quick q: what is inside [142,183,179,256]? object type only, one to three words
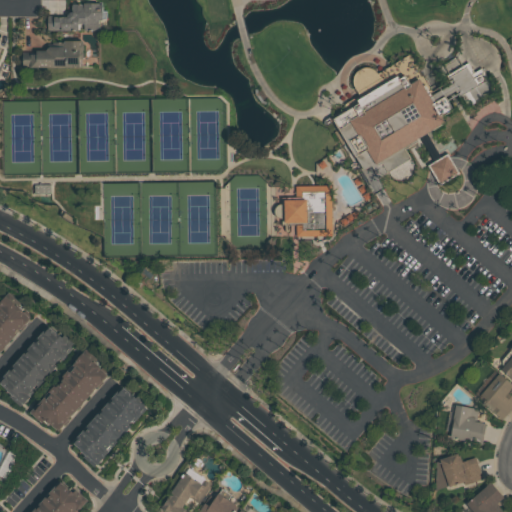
tennis court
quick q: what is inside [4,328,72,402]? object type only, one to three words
building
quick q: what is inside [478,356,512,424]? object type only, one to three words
house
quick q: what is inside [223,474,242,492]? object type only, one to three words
swimming pool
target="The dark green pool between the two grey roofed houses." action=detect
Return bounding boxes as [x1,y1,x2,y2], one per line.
[82,34,98,50]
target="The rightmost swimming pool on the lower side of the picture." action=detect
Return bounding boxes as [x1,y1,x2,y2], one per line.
[452,388,474,406]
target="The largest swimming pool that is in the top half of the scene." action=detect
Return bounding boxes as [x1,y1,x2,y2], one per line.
[337,174,364,207]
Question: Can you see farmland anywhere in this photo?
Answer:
No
